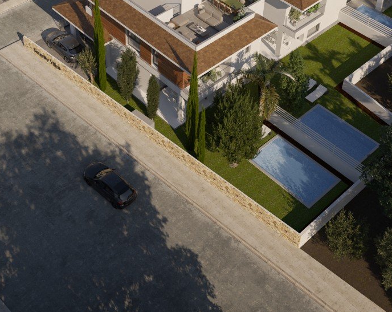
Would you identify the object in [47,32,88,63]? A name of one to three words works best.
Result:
car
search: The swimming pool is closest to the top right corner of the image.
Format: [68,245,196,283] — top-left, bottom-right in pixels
[364,13,392,39]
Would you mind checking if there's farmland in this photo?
No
